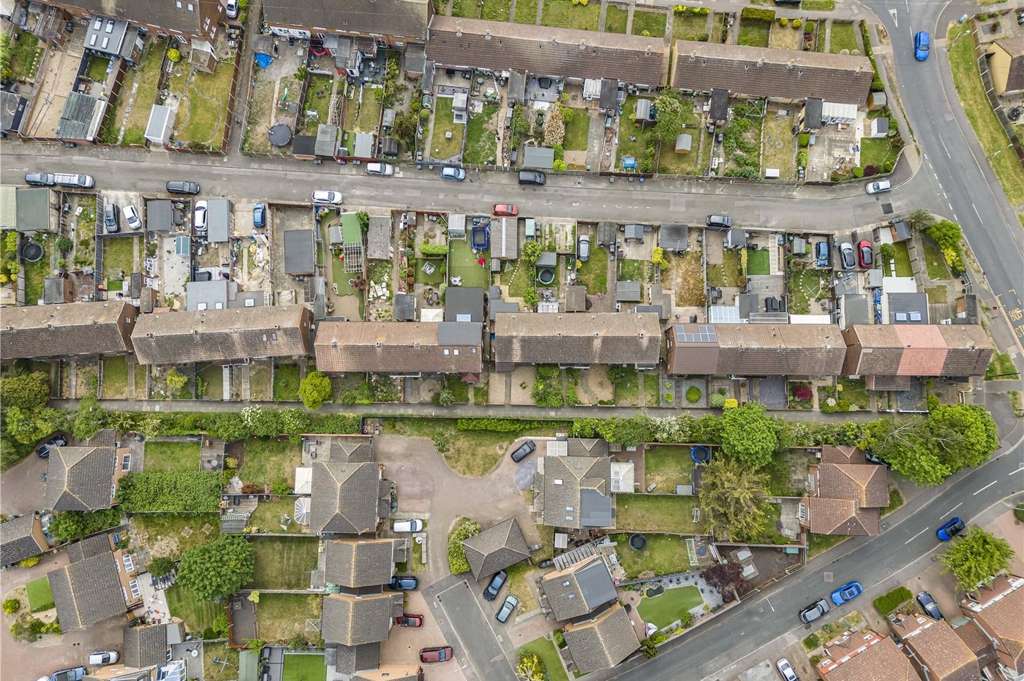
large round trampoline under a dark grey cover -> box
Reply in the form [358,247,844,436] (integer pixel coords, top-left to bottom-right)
[269,123,293,146]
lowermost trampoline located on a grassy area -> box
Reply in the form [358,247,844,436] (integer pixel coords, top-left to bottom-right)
[628,534,650,555]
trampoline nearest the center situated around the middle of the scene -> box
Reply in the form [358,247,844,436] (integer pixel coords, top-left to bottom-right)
[538,268,555,284]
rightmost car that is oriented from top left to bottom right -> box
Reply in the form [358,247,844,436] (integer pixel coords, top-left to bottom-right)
[915,588,942,620]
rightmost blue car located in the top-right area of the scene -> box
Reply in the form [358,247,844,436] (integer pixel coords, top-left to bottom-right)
[912,32,928,60]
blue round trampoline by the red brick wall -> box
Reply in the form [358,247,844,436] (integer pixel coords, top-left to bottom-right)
[689,446,710,464]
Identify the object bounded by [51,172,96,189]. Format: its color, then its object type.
white vehicle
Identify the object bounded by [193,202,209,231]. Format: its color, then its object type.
white car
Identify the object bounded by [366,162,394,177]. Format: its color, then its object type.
white car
